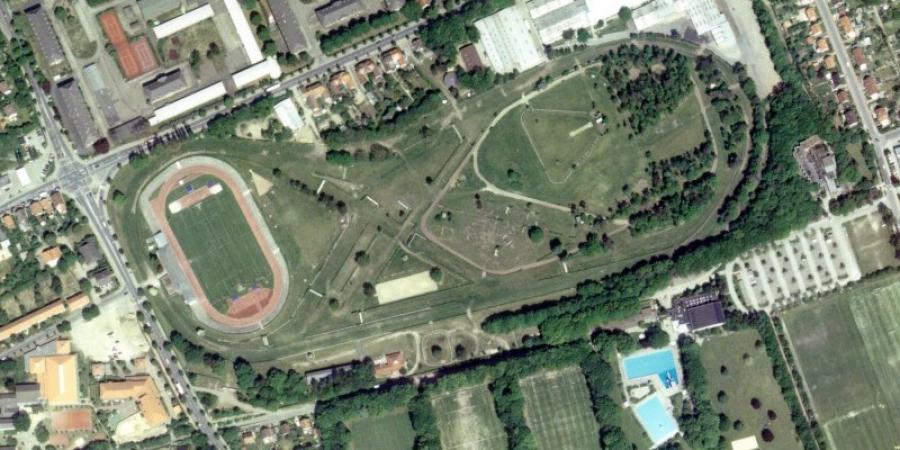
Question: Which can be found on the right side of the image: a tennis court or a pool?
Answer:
pool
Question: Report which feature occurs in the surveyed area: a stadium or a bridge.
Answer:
stadium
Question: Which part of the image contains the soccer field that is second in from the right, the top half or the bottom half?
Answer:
bottom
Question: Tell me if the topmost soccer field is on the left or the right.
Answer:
left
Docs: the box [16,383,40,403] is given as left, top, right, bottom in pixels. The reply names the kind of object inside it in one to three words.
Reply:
building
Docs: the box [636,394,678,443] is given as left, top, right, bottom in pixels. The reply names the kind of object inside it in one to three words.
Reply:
swimming pool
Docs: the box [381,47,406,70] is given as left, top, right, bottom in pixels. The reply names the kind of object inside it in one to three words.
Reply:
house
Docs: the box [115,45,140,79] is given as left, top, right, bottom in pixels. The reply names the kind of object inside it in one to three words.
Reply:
tennis court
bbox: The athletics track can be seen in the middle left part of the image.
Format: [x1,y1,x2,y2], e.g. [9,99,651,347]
[154,163,282,326]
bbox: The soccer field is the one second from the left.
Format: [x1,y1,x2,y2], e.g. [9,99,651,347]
[345,409,417,450]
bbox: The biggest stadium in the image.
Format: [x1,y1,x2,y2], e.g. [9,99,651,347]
[139,155,289,333]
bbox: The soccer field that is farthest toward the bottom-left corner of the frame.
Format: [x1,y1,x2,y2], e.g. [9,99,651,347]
[165,173,273,319]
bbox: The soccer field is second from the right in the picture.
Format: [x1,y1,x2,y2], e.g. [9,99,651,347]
[432,385,510,450]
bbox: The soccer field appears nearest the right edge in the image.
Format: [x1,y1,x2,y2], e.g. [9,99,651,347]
[521,367,602,450]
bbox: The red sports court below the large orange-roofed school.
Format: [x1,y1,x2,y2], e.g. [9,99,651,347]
[53,410,91,432]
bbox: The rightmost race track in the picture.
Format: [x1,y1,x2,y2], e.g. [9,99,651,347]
[298,45,747,350]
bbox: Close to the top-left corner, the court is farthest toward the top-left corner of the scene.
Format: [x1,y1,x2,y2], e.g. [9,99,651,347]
[100,10,127,50]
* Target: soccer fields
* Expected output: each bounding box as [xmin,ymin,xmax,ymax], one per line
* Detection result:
[432,385,510,450]
[521,367,602,450]
[165,173,273,319]
[345,409,417,450]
